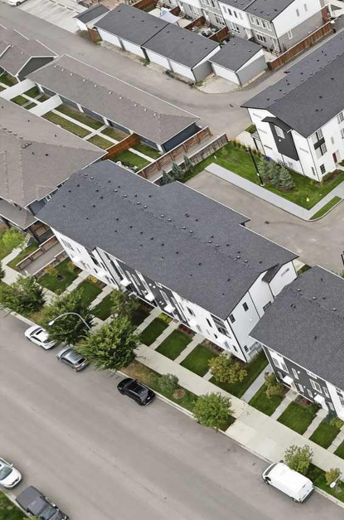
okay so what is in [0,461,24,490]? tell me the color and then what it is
white car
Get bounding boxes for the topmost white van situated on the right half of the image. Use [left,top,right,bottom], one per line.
[259,463,315,506]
